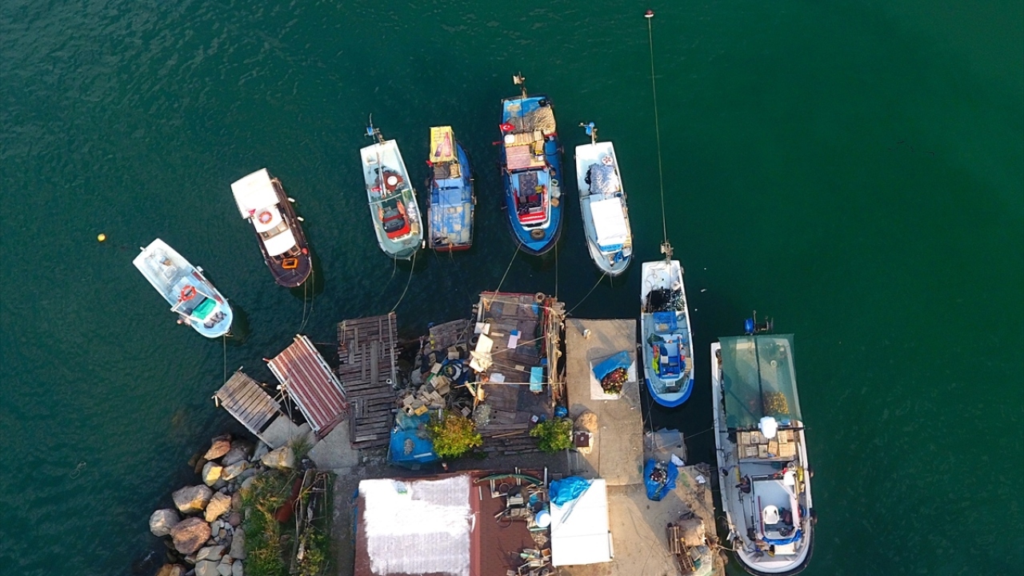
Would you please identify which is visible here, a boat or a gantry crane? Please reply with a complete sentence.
Of the two, only a boat appears.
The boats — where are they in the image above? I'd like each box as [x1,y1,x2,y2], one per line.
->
[492,72,564,258]
[132,238,235,340]
[639,242,694,410]
[231,168,311,289]
[426,136,475,251]
[575,122,634,276]
[359,114,424,261]
[709,310,816,576]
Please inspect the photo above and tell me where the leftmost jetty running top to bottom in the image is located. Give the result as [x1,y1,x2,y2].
[336,313,399,448]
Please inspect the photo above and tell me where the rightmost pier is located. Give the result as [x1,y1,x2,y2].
[565,319,644,485]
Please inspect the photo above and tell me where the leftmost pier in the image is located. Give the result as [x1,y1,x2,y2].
[213,366,283,449]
